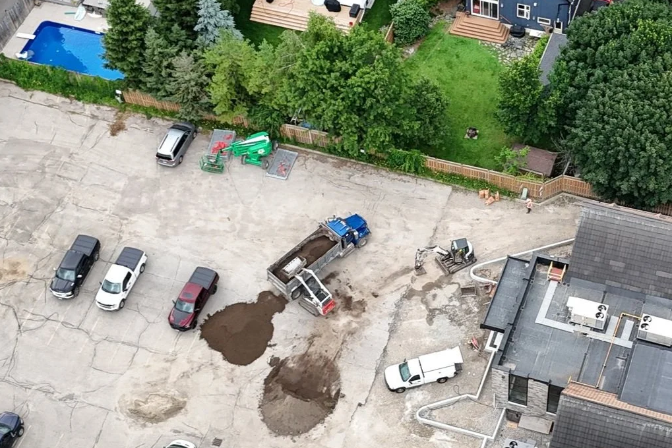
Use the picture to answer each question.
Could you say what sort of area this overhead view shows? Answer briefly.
parking lot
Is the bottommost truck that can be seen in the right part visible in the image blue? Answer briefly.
No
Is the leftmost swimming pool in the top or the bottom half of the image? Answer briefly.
top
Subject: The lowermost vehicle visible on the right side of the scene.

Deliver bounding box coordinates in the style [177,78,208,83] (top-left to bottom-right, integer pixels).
[381,343,465,395]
